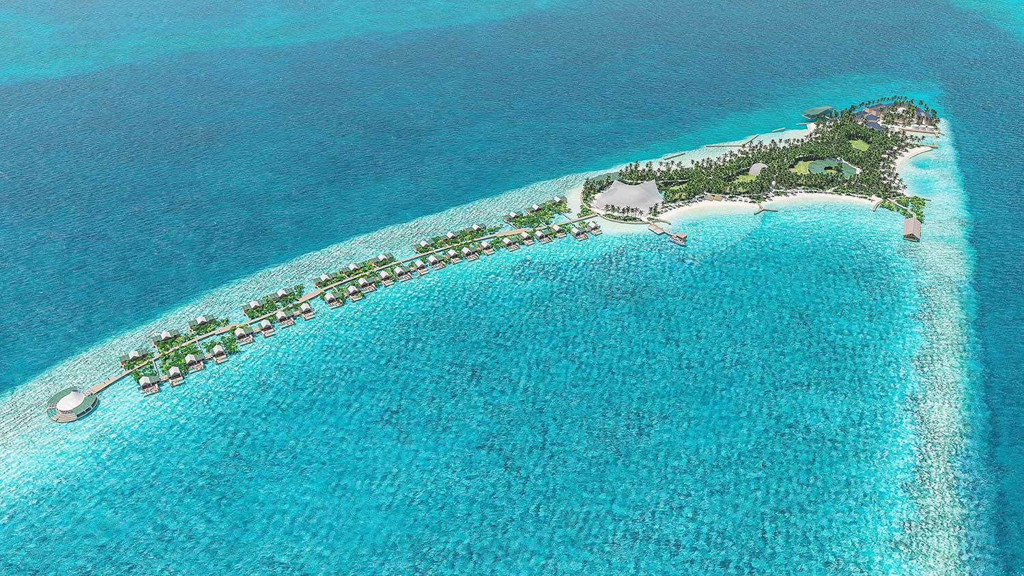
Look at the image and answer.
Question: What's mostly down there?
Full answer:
The bulk of the photo consists of water.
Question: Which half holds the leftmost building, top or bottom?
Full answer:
The bottom half of the photo is where the leftmost building is.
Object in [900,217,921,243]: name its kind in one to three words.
building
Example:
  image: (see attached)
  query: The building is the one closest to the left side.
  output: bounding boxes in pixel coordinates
[45,383,98,424]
